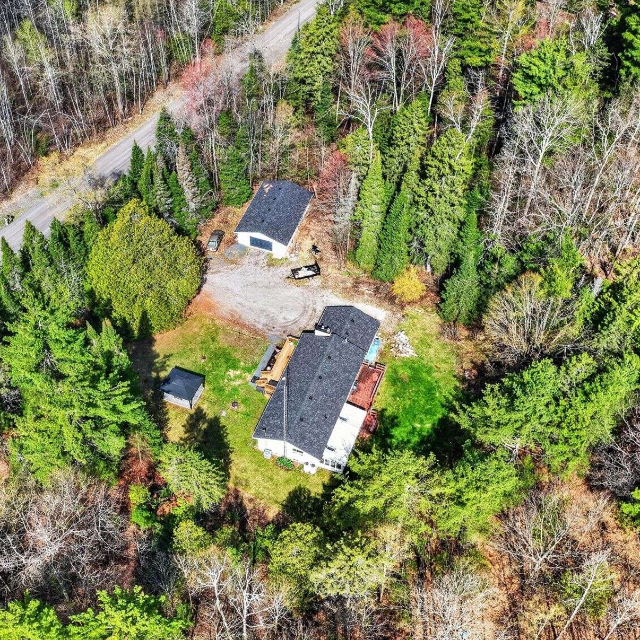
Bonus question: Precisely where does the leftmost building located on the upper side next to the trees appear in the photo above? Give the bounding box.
[235,178,317,260]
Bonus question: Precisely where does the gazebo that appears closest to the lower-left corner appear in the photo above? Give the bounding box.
[158,371,204,415]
